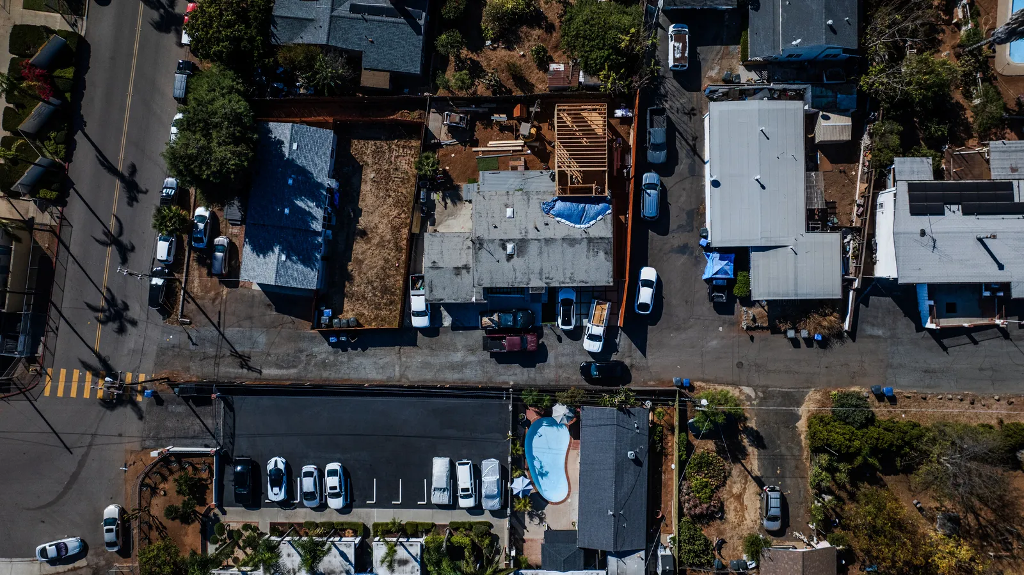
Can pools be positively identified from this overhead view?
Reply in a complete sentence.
Yes, there is a pool in the image.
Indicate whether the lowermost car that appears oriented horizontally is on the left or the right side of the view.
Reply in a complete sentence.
The lowermost car that appears oriented horizontally is on the left side of the image.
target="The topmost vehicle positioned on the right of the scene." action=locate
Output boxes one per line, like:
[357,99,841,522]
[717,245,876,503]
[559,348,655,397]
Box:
[667,23,692,71]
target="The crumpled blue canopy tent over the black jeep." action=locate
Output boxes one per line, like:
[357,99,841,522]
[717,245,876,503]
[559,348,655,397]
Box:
[700,252,735,279]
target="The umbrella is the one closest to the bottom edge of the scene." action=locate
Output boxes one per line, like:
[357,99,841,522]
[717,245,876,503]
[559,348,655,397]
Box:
[509,474,532,496]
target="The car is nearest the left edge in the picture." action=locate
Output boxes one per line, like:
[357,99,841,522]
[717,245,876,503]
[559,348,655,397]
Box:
[34,534,88,562]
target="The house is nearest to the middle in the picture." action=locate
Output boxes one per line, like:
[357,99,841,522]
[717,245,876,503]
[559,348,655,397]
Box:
[424,170,613,303]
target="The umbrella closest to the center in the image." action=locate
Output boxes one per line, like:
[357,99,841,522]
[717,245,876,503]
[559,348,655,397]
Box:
[551,401,574,424]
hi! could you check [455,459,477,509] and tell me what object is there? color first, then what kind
white car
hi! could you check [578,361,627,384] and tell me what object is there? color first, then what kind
black car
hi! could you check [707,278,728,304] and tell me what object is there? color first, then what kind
black car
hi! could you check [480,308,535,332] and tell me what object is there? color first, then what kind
black truck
